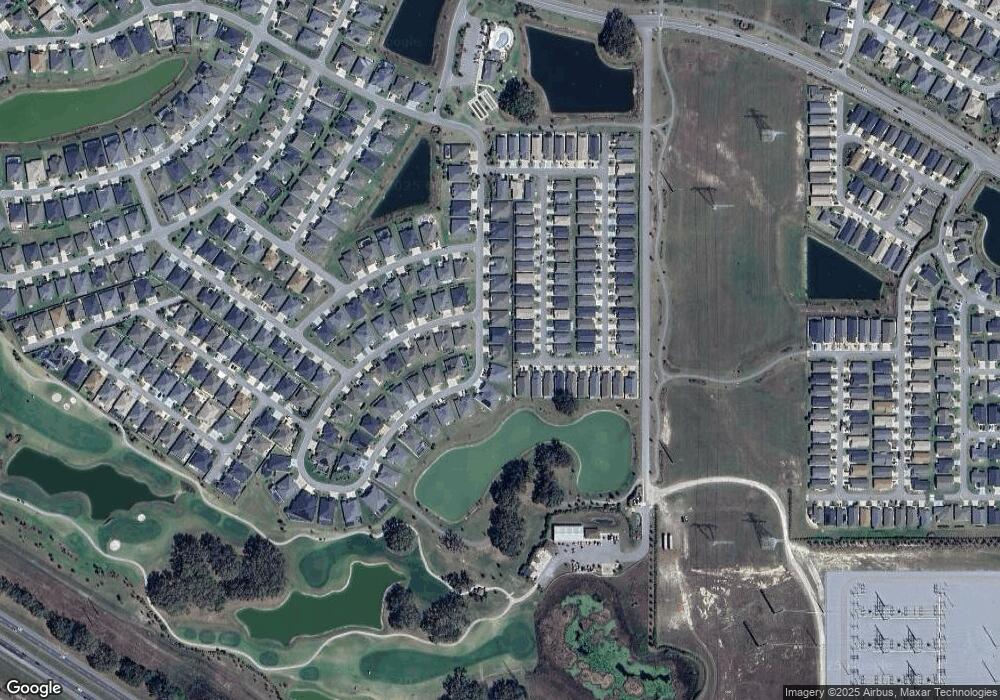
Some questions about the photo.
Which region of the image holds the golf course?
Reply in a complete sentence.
The golf course is located in the bottom left region of the scene.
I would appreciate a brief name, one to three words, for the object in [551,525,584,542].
shed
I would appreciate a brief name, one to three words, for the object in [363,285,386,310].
house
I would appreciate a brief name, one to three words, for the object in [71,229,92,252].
house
